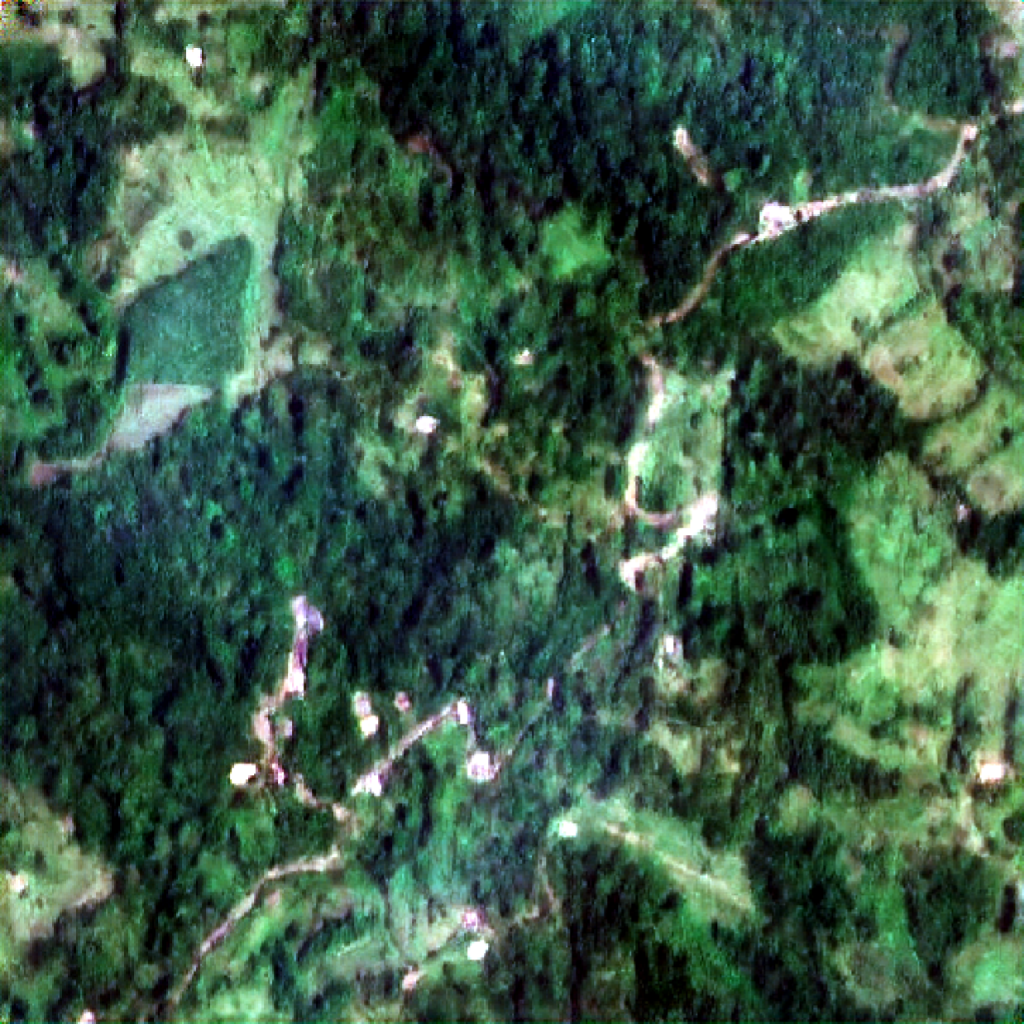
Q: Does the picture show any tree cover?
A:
Yes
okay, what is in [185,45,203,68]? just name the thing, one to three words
house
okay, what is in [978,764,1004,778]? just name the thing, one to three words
house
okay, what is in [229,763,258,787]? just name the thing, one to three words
building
